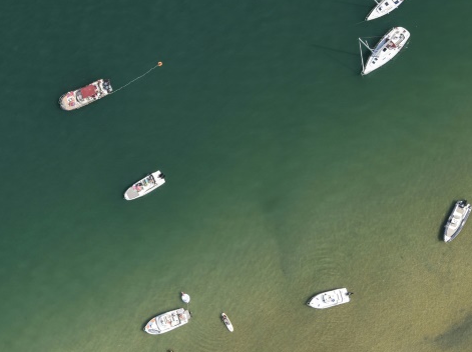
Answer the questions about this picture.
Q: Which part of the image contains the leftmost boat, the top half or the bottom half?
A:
top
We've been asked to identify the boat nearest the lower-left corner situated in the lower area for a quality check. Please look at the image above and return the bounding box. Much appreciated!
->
[142,308,193,333]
